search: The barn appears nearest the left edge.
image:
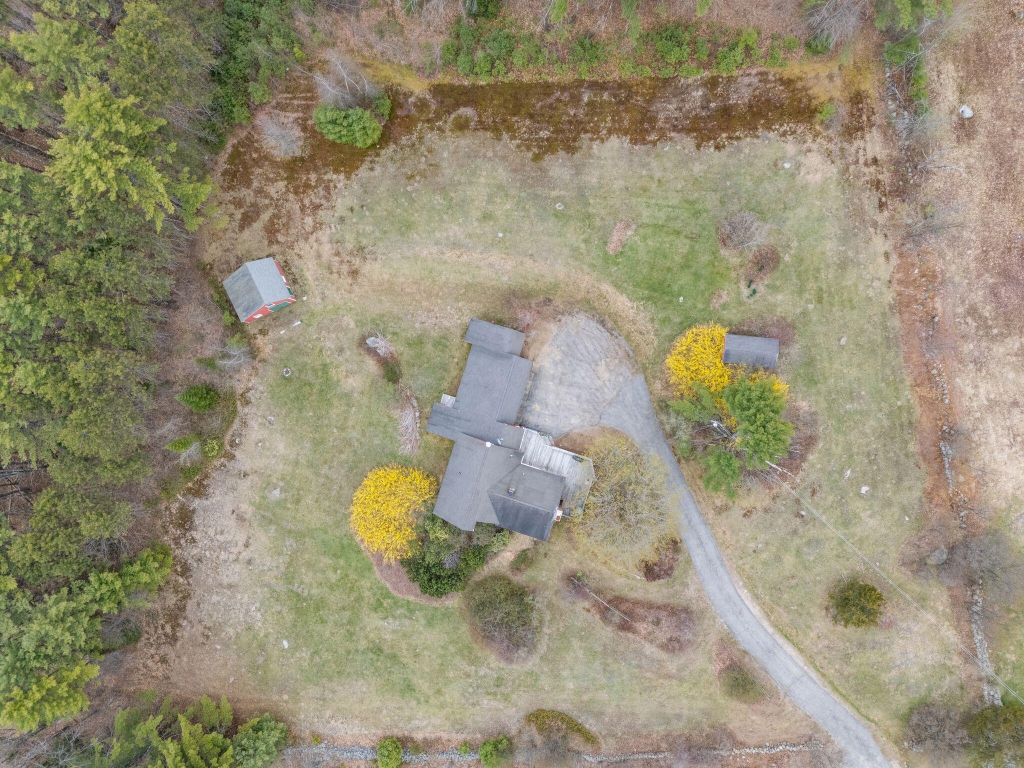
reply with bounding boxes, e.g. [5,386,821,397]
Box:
[224,257,297,324]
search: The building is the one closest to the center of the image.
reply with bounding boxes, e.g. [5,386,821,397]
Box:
[426,318,566,543]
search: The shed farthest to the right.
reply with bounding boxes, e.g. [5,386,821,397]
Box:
[719,334,779,368]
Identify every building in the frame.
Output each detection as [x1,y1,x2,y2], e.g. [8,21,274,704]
[719,334,779,368]
[426,318,566,543]
[224,257,297,324]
